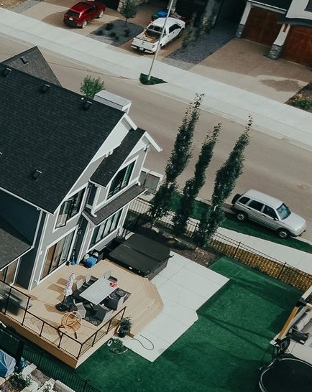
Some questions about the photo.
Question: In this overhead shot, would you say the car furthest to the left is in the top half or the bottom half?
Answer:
top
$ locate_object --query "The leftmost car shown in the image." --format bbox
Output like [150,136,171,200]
[64,0,108,25]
